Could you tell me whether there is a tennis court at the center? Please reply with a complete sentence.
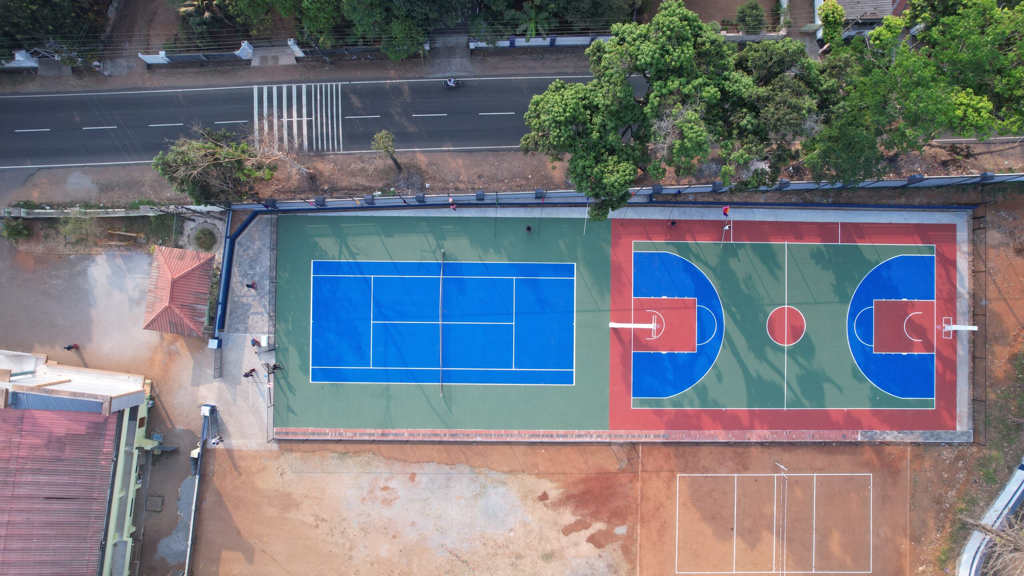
Yes, there is a tennis court at the center.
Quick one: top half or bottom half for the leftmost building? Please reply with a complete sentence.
Seen from above, the leftmost building lies in the bottom half of the view.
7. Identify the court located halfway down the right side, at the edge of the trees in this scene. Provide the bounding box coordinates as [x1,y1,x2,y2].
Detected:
[609,219,957,431]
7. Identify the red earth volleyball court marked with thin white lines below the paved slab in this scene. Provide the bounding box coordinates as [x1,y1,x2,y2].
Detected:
[637,445,910,576]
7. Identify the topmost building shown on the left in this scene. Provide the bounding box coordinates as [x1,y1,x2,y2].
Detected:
[141,245,217,338]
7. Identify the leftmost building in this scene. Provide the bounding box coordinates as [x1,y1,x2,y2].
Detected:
[0,348,178,576]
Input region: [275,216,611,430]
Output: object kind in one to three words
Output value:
tennis court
